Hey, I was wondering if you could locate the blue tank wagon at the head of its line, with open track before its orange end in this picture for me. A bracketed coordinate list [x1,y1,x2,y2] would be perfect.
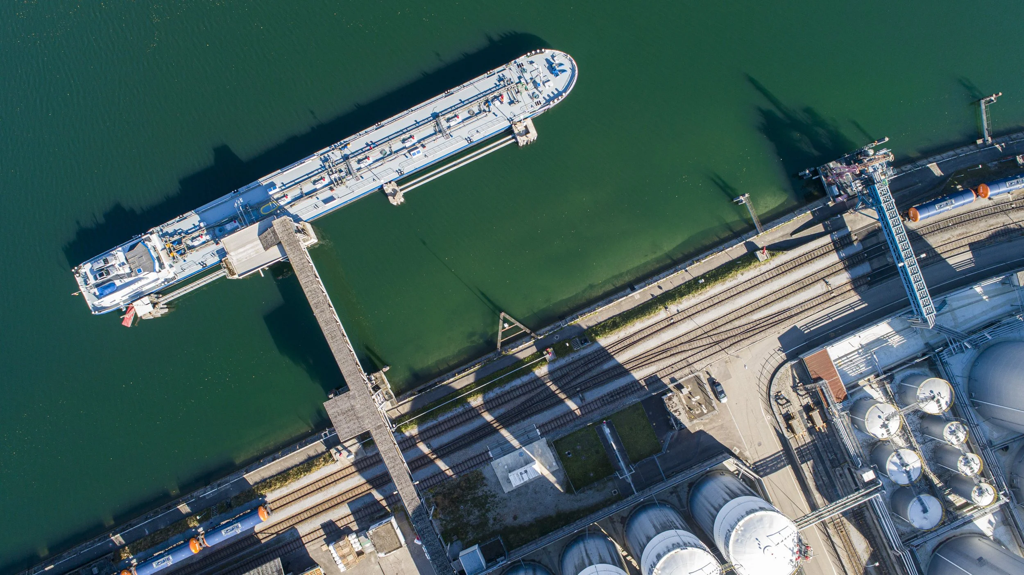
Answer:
[203,501,276,546]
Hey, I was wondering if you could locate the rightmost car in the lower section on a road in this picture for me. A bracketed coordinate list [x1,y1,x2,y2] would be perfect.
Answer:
[712,379,728,404]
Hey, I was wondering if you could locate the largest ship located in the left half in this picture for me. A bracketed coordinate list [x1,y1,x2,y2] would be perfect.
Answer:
[71,46,578,315]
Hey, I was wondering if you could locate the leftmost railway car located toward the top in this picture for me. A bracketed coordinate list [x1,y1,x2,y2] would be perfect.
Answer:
[901,188,980,223]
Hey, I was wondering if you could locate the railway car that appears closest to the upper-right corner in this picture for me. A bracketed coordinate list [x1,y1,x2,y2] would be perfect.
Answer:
[974,174,1024,199]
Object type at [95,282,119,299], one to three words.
boat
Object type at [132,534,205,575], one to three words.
rail car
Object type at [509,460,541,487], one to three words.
shed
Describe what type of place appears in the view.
industrial area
